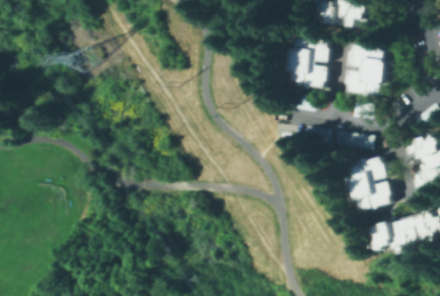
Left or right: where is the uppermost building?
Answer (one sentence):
The uppermost building sits on the right side.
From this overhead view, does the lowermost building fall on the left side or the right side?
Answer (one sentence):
The lowermost building is on the right side of the image.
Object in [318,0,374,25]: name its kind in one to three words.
building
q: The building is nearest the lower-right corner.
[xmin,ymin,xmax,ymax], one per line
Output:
[369,213,440,252]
